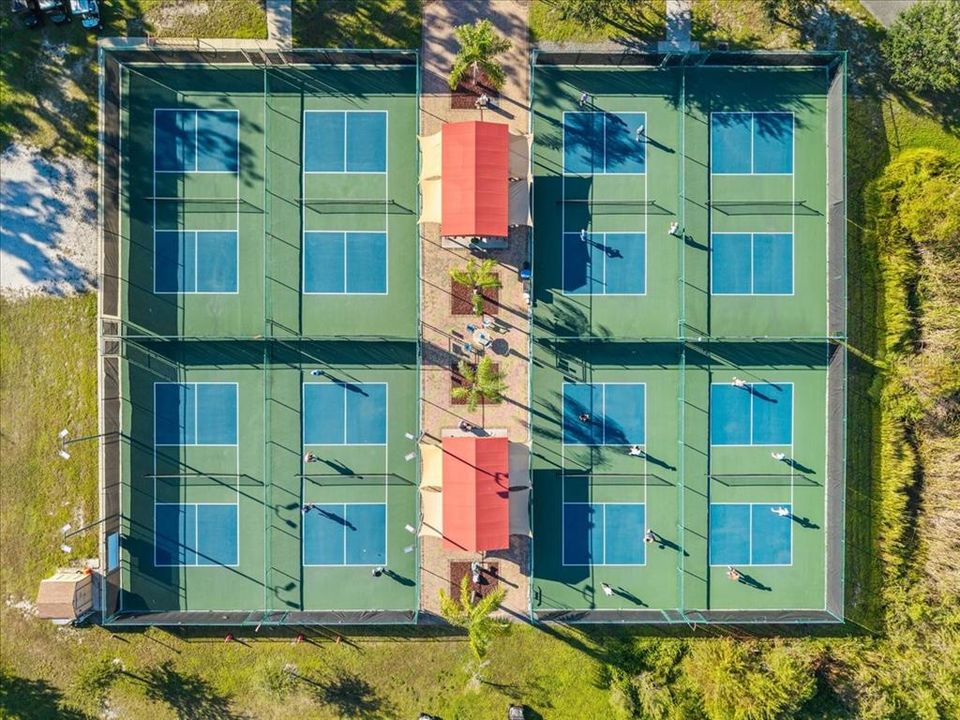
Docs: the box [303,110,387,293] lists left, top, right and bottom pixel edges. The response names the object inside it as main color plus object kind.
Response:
blue sports court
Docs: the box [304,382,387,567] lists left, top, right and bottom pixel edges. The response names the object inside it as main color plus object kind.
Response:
blue sports court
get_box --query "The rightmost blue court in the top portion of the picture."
[711,110,795,293]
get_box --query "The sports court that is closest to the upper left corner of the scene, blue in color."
[153,110,238,293]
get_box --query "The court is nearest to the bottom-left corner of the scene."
[154,382,239,567]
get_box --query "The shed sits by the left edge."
[36,573,92,618]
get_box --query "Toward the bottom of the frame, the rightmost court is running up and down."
[710,382,794,567]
